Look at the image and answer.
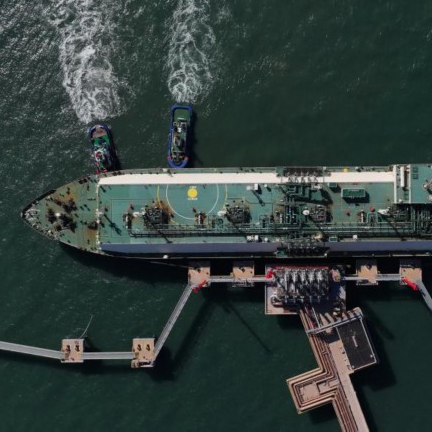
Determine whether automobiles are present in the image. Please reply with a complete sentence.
No, the frame has no automobile in it.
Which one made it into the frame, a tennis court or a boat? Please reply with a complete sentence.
Visible in the photo is a boat.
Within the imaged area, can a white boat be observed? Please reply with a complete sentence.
No, the photo shows no white boat.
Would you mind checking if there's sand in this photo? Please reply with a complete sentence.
No, the scene doesn't show any sand.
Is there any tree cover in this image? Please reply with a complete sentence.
No, the picture contains no tree cover.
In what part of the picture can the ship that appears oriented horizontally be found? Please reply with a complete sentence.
The ship that appears oriented horizontally is located in the center region of the scene.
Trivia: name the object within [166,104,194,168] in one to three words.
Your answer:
boat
